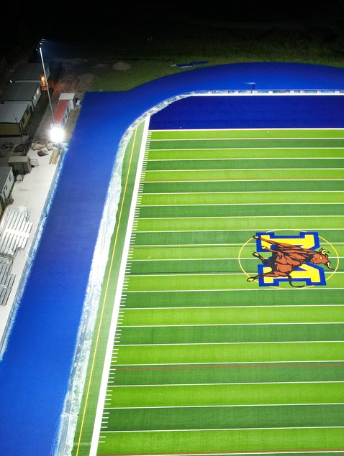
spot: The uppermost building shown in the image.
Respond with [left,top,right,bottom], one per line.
[11,62,51,91]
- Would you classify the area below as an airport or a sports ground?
sports ground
